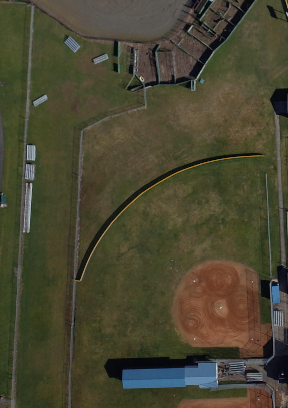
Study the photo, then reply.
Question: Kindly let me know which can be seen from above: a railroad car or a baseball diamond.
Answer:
baseball diamond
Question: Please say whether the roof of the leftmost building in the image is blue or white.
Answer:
blue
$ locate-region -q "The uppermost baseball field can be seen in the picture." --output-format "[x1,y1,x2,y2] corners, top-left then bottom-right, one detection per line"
[70,155,274,382]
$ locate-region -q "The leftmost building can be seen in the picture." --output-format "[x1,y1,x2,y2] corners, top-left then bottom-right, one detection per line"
[122,365,186,389]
